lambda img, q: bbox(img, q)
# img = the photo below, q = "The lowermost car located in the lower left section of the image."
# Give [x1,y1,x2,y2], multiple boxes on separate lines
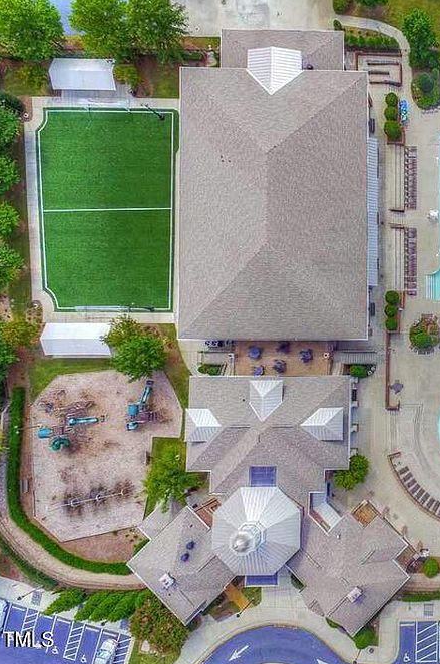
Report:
[96,632,119,664]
